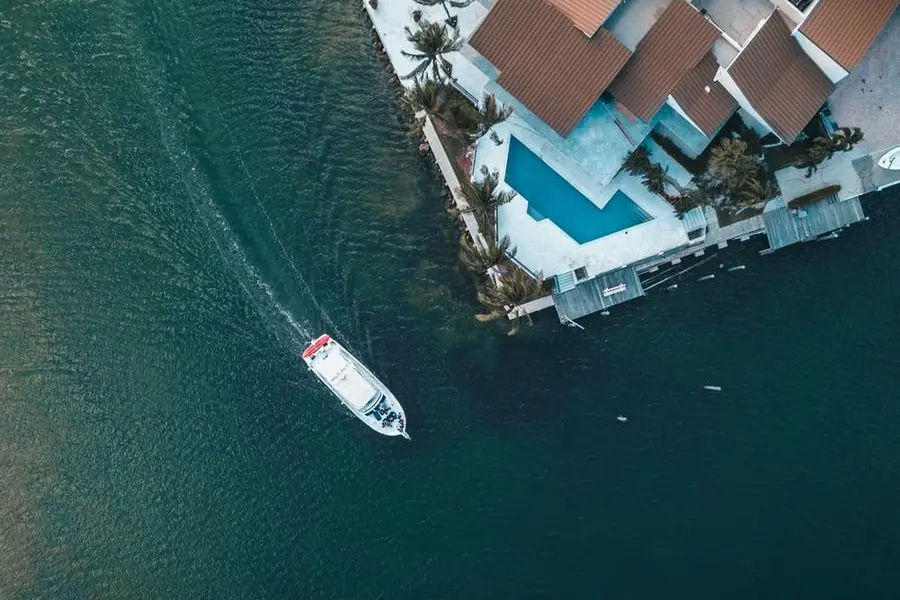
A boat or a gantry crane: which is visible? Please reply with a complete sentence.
There is a boat in the scene.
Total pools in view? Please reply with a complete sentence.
The count comes to 1 pool.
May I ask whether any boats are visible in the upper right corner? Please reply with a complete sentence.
Yes, a boat appears in the upper right corner.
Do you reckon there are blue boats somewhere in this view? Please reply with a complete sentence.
No, there's no blue boat here.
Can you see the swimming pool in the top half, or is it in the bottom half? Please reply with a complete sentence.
It is in the top half that the swimming pool appears.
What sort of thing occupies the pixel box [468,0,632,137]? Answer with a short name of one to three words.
house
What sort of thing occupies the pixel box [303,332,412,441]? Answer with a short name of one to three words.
boat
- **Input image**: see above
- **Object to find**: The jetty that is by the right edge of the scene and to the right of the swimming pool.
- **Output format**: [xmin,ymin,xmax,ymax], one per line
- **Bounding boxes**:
[766,200,867,250]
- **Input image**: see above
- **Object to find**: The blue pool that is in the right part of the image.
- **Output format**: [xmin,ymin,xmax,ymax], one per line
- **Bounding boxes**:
[504,135,654,244]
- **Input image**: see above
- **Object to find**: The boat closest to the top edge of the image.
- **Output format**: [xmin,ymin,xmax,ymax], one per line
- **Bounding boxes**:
[877,148,900,171]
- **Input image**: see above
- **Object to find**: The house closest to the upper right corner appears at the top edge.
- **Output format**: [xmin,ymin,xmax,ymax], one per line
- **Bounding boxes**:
[758,0,900,85]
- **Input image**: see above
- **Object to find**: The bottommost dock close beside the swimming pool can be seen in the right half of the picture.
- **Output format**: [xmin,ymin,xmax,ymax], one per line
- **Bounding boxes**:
[553,269,646,320]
